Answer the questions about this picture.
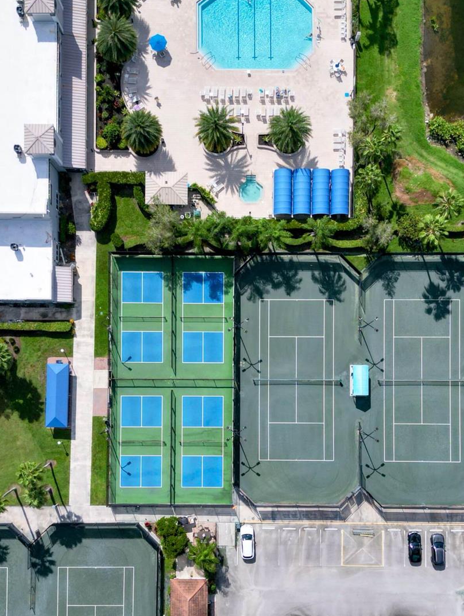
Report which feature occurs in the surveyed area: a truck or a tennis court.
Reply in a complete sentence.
The image shows a tennis court.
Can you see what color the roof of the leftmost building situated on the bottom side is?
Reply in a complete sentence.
The roof over the leftmost building situated on the bottom side appears blue.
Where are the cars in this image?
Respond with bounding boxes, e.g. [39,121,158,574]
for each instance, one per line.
[430,532,447,568]
[407,531,423,564]
[239,525,255,560]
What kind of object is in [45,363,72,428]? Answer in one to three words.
building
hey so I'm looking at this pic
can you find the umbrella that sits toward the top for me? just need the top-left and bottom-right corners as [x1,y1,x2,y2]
[148,33,168,53]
